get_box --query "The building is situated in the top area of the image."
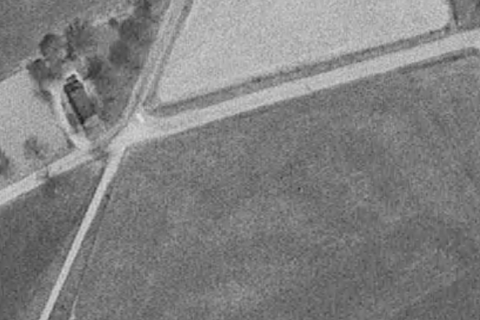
[67,75,97,119]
